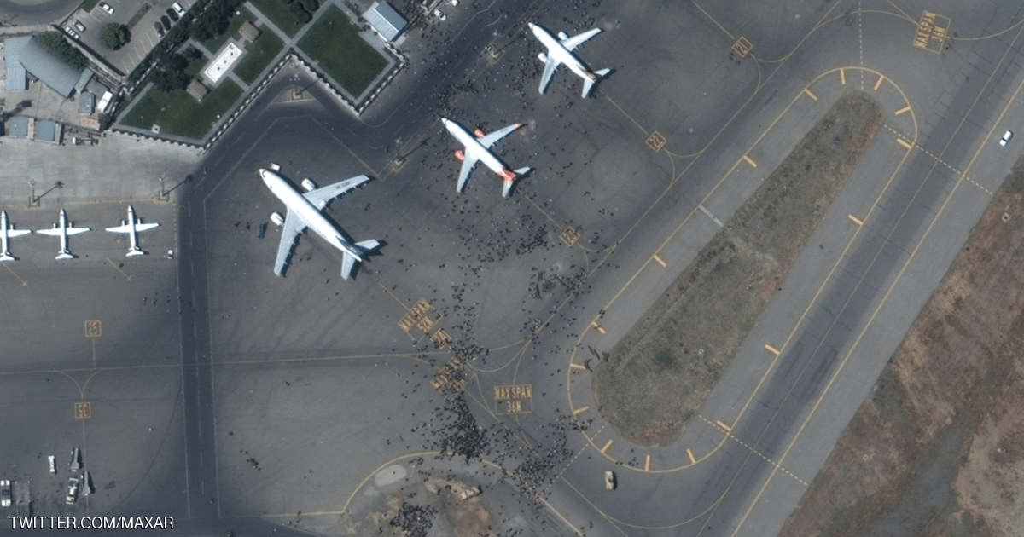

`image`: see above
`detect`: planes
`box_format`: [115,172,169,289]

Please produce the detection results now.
[36,207,89,256]
[260,169,381,278]
[529,22,611,97]
[0,209,30,257]
[105,205,158,254]
[442,118,531,196]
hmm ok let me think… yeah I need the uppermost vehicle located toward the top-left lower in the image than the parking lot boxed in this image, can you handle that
[96,90,114,113]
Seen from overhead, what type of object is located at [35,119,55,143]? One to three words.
shed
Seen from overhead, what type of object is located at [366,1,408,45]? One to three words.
building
